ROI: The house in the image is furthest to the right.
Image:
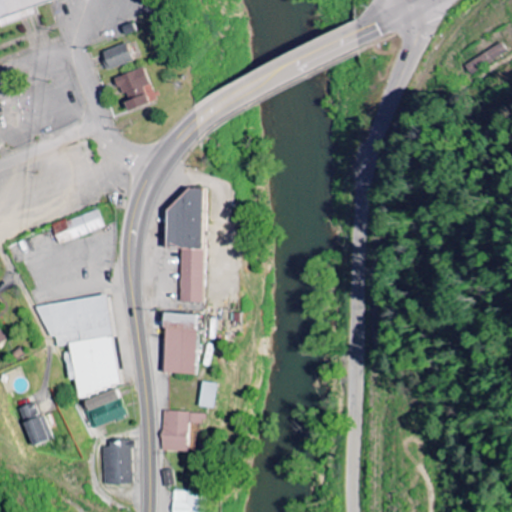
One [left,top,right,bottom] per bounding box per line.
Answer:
[466,43,505,73]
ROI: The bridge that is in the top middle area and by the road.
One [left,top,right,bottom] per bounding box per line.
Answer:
[188,24,364,138]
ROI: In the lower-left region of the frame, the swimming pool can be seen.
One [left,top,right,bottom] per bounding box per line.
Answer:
[12,378,28,392]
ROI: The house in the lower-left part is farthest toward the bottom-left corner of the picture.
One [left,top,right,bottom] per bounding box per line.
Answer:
[20,404,58,446]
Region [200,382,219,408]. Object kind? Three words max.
shed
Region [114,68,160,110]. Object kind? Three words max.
house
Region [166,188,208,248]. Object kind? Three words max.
building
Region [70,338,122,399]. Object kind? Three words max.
building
